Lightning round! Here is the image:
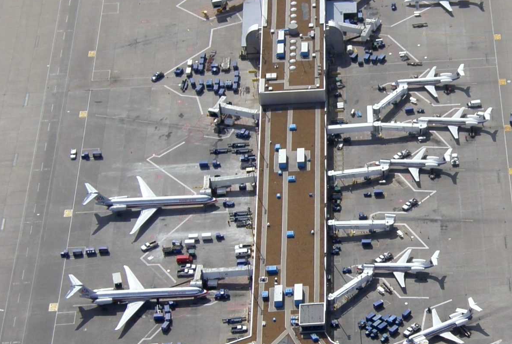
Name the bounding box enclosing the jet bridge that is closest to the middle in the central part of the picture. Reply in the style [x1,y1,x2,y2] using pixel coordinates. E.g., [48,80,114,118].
[201,174,256,198]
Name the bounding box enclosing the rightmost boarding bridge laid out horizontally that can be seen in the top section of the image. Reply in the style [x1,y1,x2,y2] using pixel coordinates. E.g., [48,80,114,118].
[372,117,428,144]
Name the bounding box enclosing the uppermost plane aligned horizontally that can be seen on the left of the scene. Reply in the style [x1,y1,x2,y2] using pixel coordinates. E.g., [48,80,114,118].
[78,177,218,234]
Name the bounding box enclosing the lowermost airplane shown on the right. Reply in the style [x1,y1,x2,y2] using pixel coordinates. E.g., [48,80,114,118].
[402,296,485,344]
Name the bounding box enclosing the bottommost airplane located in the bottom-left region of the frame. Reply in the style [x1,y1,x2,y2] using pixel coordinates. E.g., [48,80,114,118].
[62,266,208,330]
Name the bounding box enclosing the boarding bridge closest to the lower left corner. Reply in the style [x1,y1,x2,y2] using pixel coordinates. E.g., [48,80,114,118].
[192,265,253,292]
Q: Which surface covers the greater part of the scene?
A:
paved ground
